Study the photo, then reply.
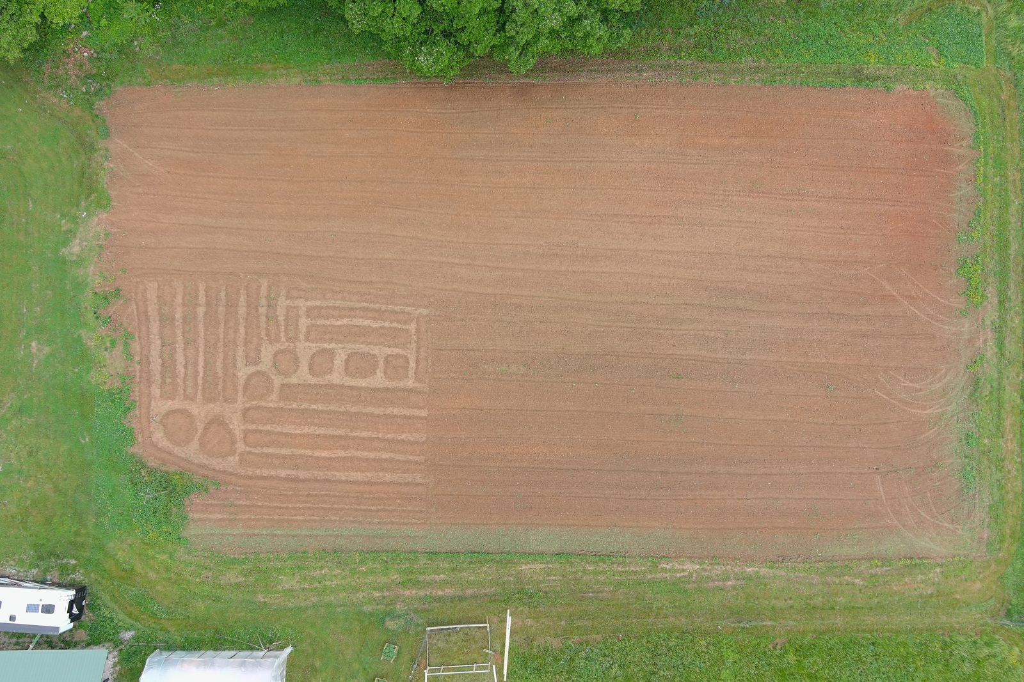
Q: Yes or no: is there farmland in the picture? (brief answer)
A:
Yes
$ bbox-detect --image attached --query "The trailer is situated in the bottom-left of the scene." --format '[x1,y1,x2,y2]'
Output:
[0,577,90,636]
